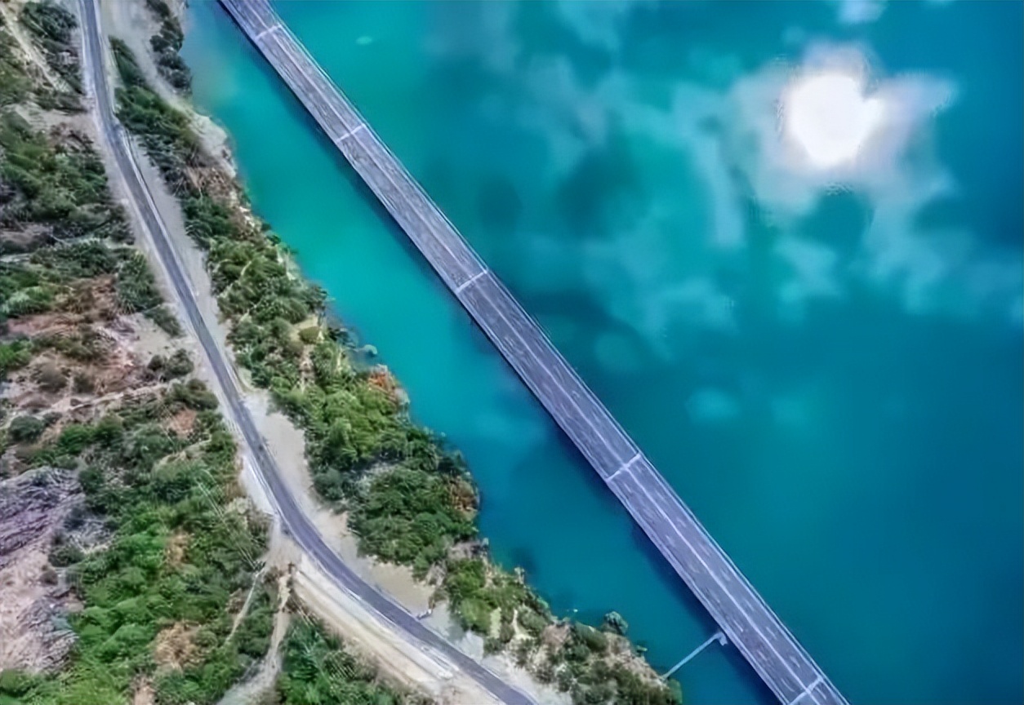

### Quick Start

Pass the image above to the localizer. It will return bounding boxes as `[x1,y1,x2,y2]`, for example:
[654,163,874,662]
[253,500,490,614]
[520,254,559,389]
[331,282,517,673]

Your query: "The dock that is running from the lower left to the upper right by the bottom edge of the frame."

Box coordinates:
[663,630,731,679]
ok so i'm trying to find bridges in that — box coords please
[223,0,851,705]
